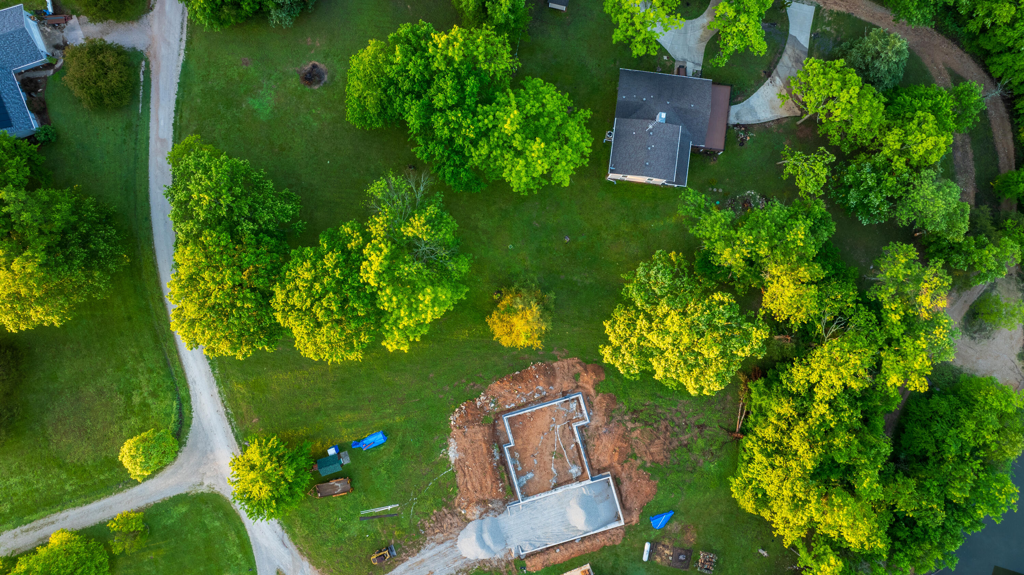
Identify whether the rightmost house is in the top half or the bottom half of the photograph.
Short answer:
top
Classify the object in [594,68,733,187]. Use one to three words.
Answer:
house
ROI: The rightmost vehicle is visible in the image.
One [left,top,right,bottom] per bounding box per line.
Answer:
[371,544,398,565]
